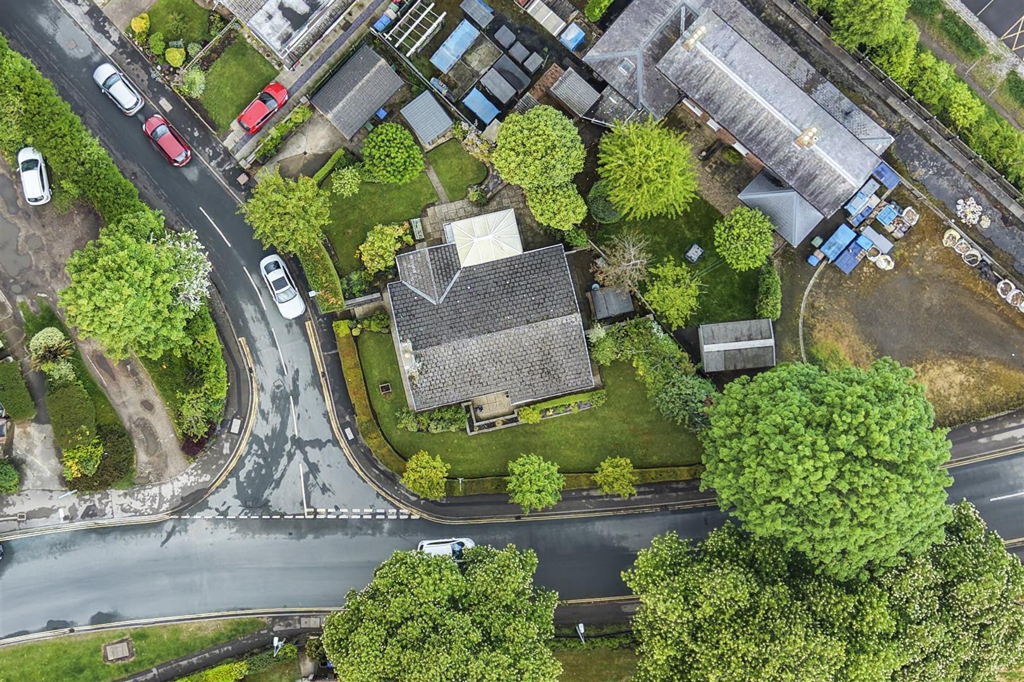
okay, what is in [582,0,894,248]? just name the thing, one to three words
house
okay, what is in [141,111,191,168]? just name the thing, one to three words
car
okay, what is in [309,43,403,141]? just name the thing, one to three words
building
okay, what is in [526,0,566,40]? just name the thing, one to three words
shed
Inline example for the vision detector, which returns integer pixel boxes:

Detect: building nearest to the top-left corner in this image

[219,0,359,72]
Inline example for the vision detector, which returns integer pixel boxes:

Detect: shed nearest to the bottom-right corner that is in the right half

[699,319,776,372]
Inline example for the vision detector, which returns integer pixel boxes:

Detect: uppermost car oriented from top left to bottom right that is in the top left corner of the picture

[92,61,145,117]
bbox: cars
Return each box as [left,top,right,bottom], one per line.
[14,146,51,206]
[237,80,289,134]
[417,537,476,564]
[141,111,191,168]
[262,252,302,321]
[92,61,145,117]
